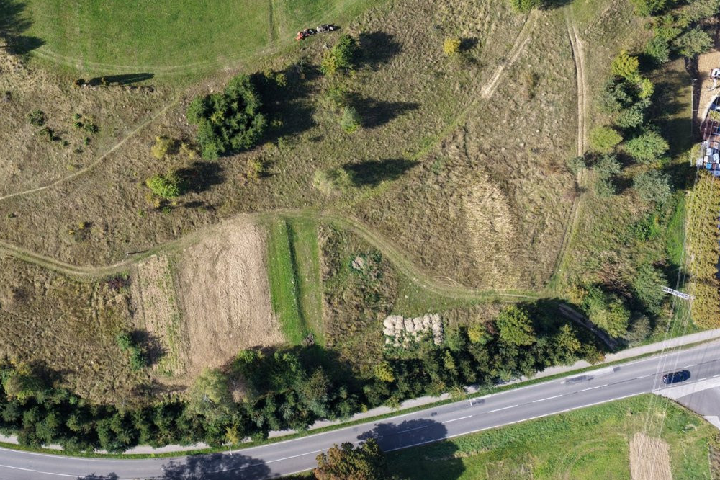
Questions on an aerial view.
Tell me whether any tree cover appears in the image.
Yes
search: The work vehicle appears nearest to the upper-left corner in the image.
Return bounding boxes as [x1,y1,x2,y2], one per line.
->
[292,26,312,39]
